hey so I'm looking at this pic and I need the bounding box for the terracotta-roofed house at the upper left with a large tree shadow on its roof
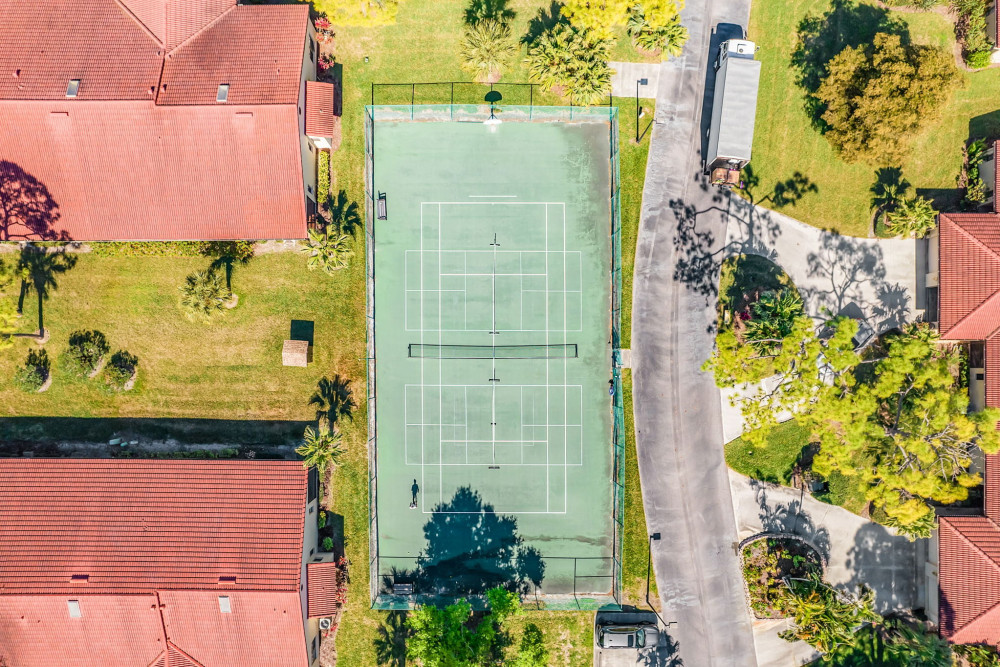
[0,0,338,241]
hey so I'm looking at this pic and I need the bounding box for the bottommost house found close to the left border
[0,457,340,667]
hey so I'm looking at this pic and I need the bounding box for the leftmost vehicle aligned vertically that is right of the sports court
[703,38,762,187]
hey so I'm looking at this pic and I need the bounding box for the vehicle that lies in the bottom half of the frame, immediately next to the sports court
[597,620,662,654]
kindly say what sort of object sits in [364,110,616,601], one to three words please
sports court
